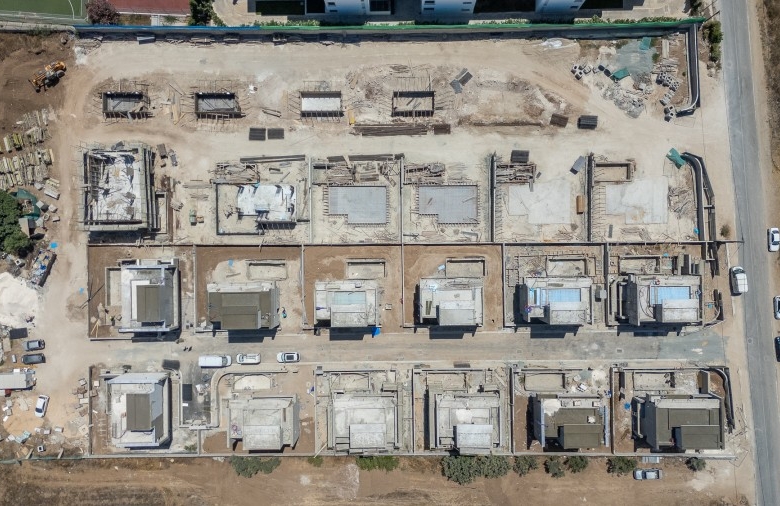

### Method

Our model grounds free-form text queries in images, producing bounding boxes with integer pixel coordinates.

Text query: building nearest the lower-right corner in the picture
[637,392,720,447]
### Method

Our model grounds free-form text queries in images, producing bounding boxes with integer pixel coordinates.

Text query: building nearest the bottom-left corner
[110,374,174,447]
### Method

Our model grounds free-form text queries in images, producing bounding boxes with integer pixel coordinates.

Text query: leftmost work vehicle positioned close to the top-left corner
[31,65,69,92]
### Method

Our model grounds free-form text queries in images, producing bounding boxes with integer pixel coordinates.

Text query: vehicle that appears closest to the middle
[277,351,301,363]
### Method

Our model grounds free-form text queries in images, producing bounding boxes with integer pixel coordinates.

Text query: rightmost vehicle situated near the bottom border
[632,467,661,481]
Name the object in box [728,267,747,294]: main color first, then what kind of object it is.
white vehicle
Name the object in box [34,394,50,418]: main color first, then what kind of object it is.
white car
